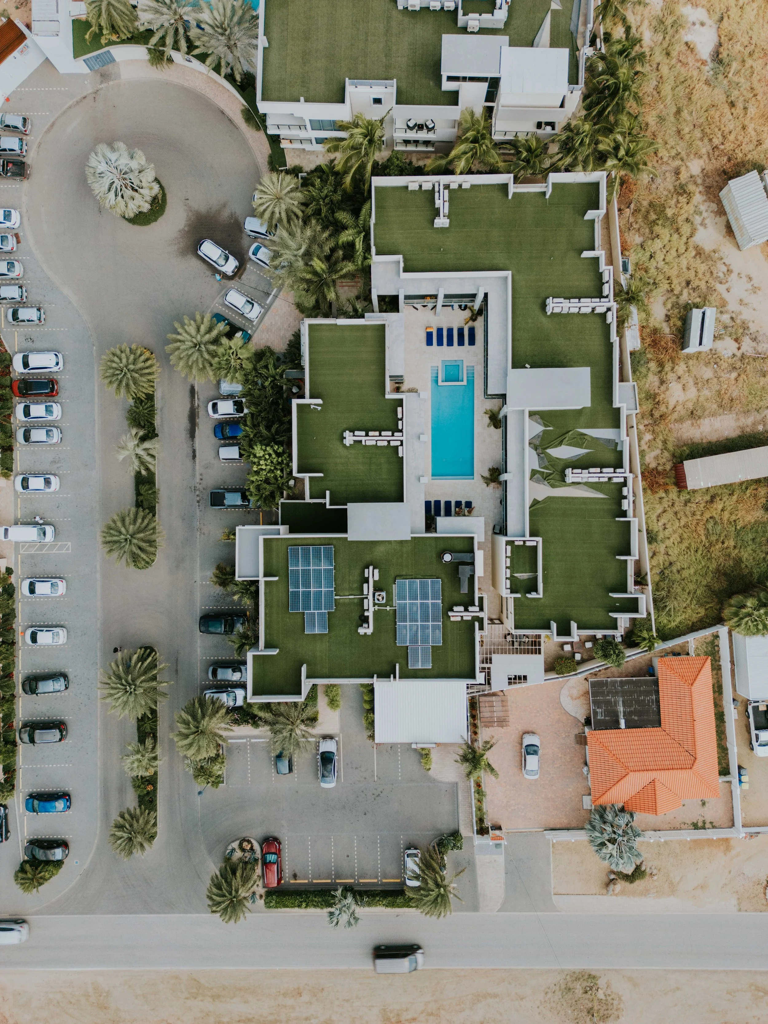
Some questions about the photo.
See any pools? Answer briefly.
Yes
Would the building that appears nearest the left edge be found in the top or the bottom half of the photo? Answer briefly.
top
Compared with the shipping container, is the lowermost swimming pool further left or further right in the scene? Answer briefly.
on the left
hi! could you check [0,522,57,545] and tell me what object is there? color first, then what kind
white vehicle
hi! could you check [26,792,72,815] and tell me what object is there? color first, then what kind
blue car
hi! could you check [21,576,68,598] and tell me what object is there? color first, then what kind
white car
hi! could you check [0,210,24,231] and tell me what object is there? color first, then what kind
white car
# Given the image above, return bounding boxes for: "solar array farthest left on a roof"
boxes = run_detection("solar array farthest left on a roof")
[288,546,335,633]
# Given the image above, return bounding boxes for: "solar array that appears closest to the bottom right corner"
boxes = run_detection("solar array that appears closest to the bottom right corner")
[395,580,442,668]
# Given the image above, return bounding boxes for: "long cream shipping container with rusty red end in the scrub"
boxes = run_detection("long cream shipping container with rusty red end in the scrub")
[674,445,768,490]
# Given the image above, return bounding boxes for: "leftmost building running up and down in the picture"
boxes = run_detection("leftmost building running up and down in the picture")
[0,8,45,105]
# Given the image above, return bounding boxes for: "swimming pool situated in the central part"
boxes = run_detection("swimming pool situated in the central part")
[431,358,474,479]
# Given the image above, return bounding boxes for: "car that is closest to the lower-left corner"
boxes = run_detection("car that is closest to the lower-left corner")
[0,920,26,943]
